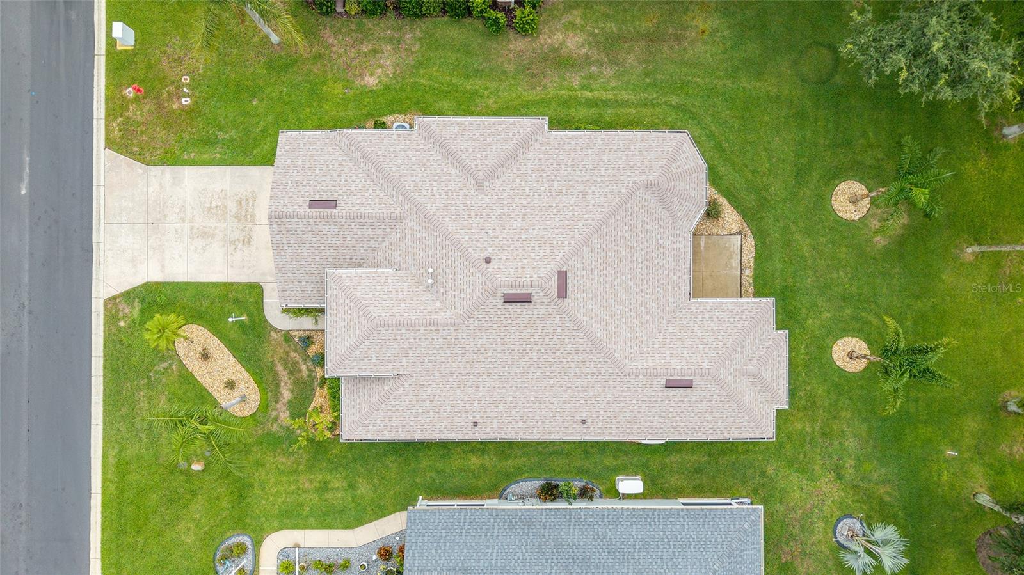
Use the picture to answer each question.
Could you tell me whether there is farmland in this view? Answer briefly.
No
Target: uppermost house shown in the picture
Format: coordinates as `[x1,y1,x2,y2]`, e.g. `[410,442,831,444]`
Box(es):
[268,115,788,441]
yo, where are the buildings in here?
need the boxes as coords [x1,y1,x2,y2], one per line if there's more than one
[404,491,763,575]
[268,115,788,441]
